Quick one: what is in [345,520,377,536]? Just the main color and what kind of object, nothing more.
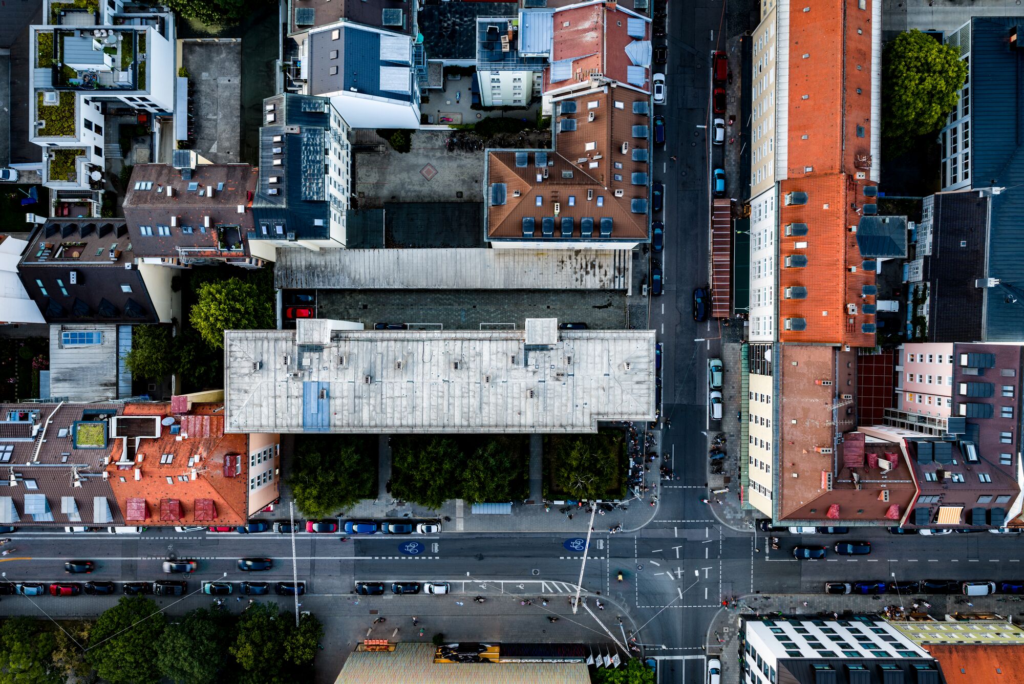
blue car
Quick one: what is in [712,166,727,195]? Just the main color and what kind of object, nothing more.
blue car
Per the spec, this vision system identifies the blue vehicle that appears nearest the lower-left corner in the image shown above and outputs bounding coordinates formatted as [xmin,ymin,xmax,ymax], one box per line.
[19,582,45,597]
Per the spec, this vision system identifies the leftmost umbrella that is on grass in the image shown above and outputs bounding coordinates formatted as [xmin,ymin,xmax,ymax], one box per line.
[23,188,41,207]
